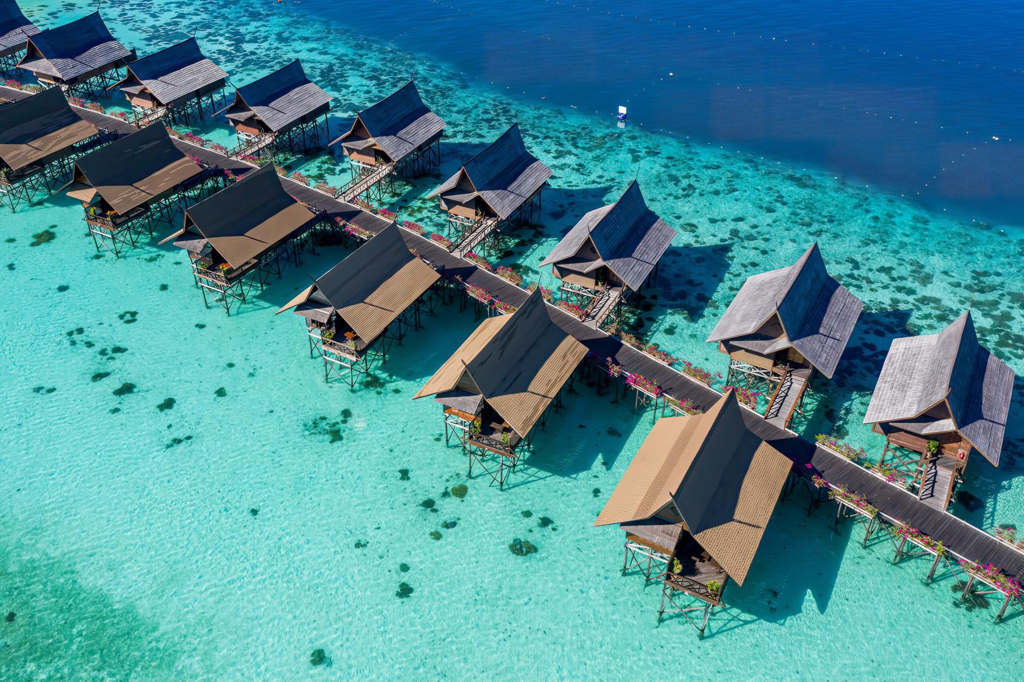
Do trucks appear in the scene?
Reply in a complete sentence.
No, no truck is visible in the scene.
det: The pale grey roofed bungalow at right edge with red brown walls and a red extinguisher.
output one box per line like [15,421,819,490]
[859,293,1017,512]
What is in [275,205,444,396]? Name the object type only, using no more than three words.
house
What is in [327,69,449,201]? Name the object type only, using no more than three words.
house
